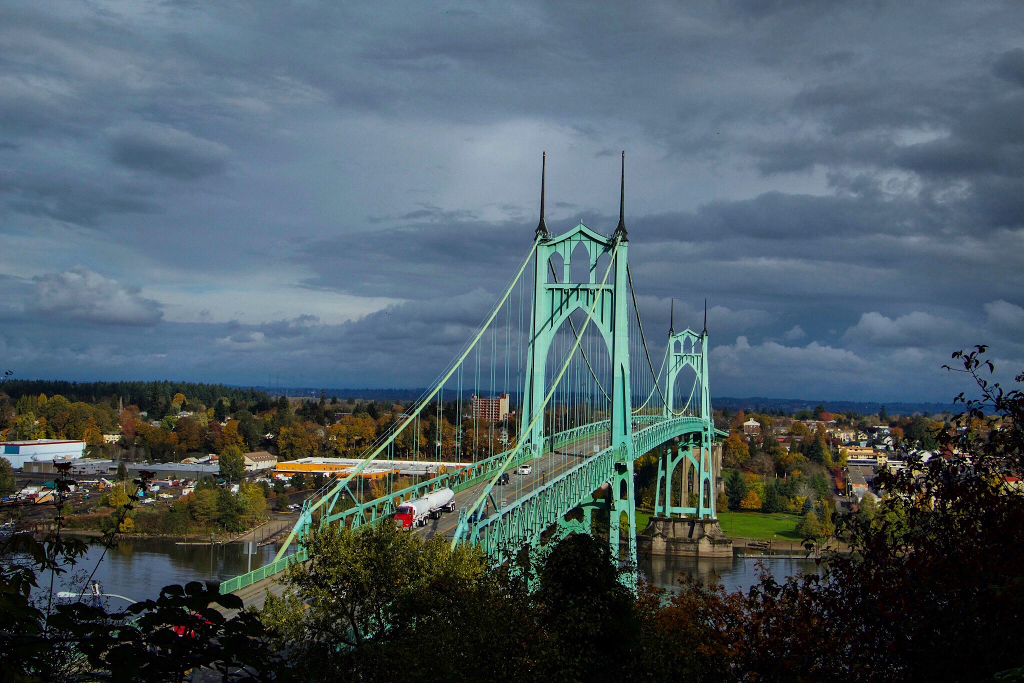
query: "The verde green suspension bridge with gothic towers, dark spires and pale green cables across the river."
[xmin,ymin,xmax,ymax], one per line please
[4,150,734,683]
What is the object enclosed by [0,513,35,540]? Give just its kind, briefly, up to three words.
boat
